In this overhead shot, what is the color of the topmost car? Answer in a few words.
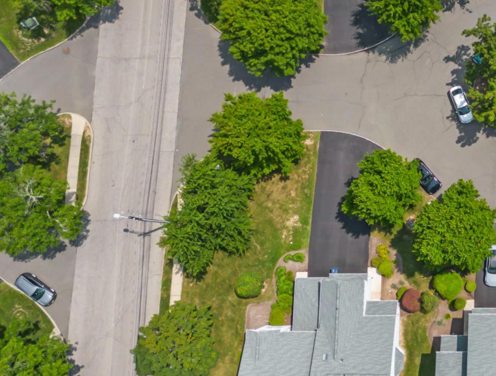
white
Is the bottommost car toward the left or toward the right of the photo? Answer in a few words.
left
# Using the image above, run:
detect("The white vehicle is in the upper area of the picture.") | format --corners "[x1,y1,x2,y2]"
[448,84,473,124]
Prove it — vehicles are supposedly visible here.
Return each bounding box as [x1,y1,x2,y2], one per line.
[448,84,473,124]
[11,274,56,306]
[413,156,444,194]
[485,245,496,288]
